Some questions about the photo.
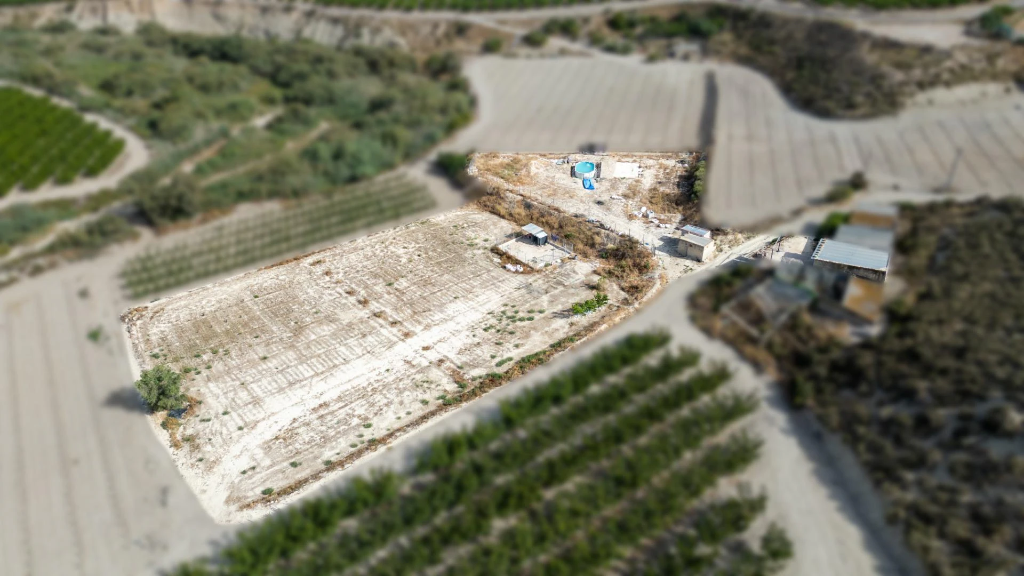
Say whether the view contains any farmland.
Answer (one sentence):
Yes, there's farmland in this view.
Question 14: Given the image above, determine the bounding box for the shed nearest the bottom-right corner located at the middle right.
[840,284,898,332]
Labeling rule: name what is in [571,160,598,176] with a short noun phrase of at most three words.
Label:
swimming pool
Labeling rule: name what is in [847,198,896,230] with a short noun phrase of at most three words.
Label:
shed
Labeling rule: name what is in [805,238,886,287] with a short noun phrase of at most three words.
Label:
shed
